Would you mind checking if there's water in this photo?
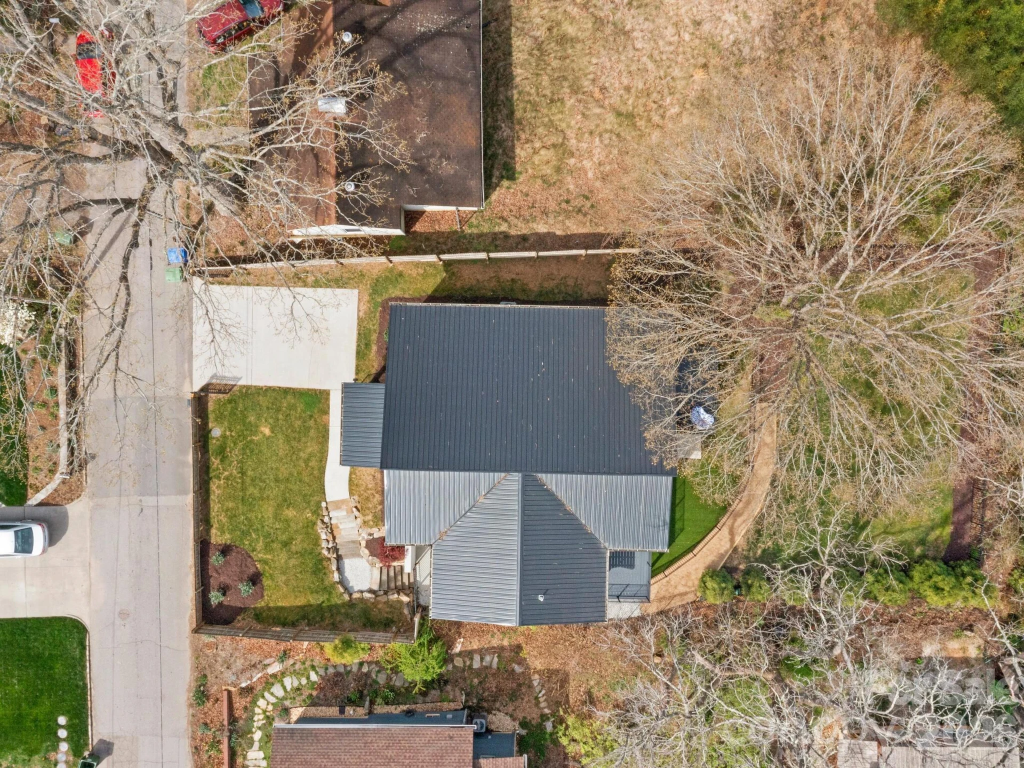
No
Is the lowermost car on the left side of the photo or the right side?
left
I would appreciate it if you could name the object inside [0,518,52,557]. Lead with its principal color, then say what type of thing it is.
white car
